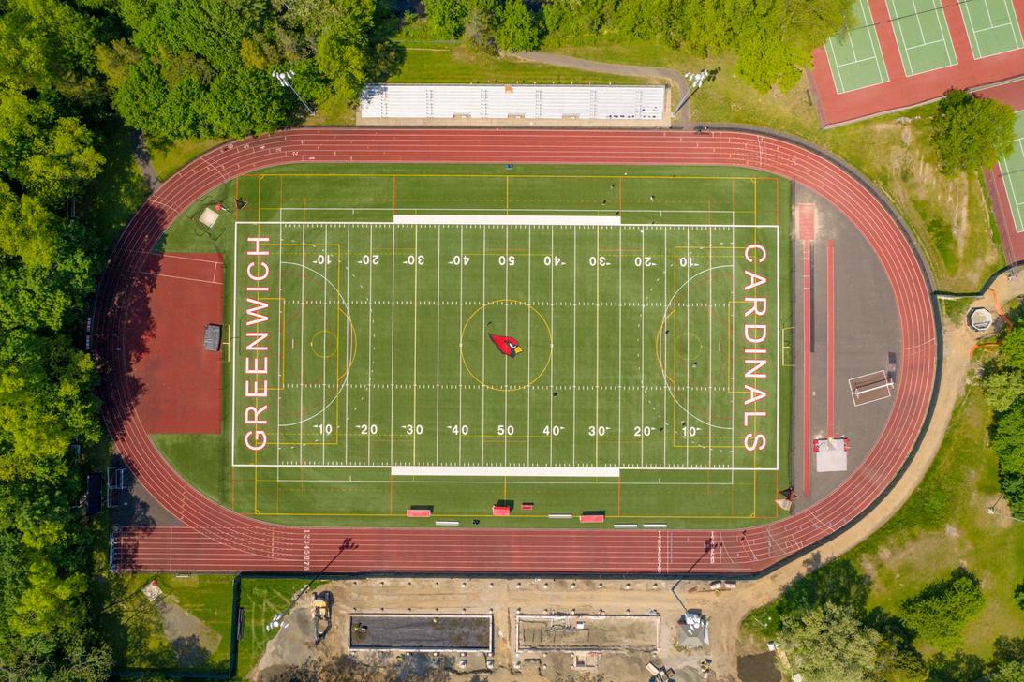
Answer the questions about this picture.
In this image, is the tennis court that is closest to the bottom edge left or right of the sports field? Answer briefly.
right of it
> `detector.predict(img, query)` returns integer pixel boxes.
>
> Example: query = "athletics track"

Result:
[91,128,937,574]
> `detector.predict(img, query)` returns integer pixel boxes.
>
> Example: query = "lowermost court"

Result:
[996,109,1024,233]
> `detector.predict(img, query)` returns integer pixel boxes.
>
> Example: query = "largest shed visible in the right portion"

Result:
[677,621,706,650]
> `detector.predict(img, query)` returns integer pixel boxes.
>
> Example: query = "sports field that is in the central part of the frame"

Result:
[150,164,794,529]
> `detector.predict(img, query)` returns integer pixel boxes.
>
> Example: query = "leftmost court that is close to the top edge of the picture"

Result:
[816,0,890,95]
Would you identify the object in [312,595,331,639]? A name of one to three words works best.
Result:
work vehicle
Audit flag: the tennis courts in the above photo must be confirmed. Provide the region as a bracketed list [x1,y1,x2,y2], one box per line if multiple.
[816,0,890,95]
[886,0,959,77]
[956,0,1024,60]
[996,109,1024,233]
